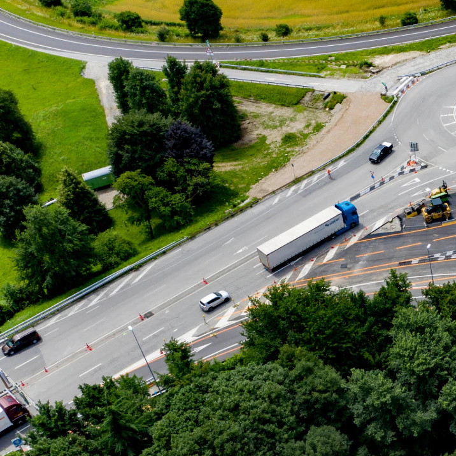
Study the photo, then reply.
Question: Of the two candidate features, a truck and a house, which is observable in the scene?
truck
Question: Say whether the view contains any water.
No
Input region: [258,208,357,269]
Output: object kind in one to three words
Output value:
truck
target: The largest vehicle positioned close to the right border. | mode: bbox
[420,202,454,226]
